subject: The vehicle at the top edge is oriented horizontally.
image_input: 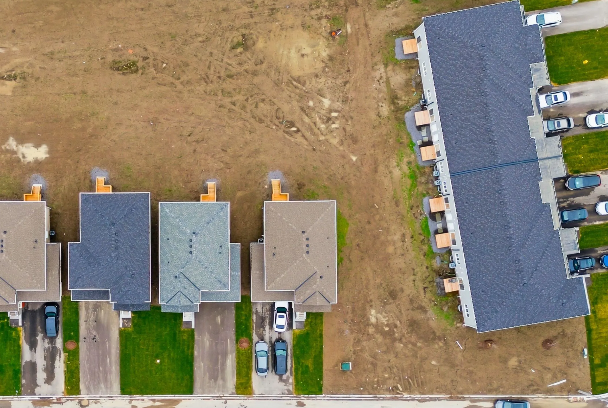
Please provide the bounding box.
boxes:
[526,10,563,27]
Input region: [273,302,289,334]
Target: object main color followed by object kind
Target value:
white car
